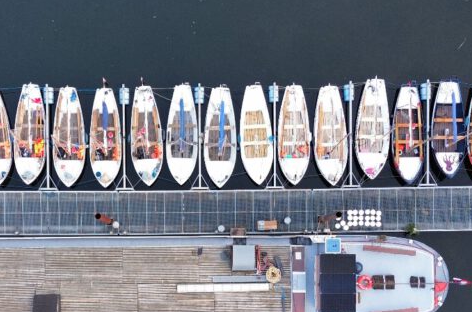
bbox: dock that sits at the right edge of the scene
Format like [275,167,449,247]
[312,187,472,231]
